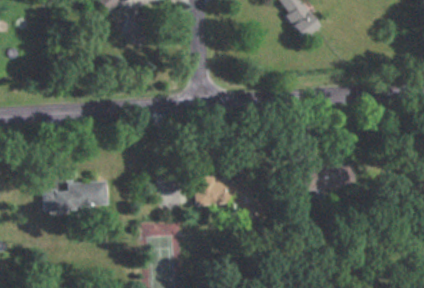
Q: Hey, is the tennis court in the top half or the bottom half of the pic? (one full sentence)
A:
The tennis court sits in the bottom half of the picture.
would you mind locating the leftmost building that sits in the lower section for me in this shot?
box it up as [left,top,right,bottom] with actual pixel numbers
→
[43,180,110,212]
